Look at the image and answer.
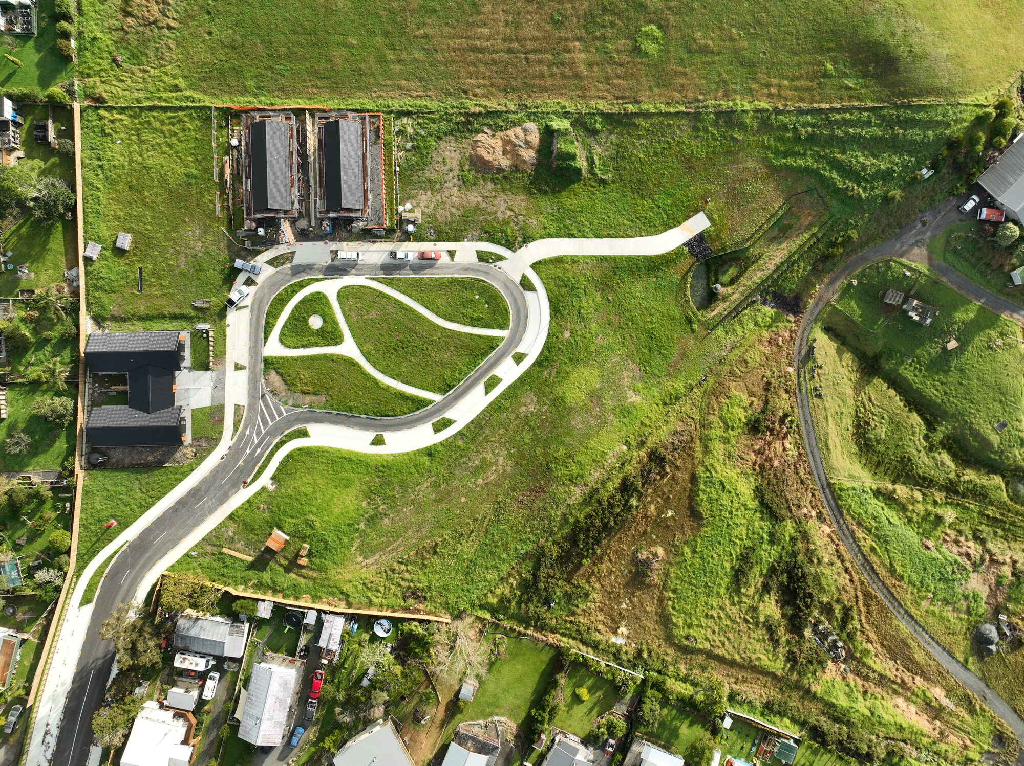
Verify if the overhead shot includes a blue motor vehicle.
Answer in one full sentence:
Yes, a blue motor vehicle is visible in the scene.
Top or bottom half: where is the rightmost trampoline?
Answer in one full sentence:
You can find the rightmost trampoline in the bottom half.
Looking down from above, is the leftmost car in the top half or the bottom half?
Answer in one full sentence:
The bottom half of the photo is where the leftmost car is.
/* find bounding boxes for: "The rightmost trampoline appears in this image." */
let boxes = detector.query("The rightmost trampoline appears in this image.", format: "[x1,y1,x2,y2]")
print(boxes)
[281,612,302,635]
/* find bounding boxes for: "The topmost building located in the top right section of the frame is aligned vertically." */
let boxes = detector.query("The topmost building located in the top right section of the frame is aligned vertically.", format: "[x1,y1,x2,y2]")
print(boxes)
[974,129,1024,232]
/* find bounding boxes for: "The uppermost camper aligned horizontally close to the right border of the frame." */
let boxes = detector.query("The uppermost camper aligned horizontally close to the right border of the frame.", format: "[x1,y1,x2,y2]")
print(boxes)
[968,208,1002,223]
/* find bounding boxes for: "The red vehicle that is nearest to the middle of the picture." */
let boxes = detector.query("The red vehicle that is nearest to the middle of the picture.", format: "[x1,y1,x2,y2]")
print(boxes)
[418,249,442,261]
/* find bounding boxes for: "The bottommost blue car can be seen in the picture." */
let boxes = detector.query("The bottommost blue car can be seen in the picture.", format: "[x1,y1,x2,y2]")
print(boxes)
[290,725,306,748]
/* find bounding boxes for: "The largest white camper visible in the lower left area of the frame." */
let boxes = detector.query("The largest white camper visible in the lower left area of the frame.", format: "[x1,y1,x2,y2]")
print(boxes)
[178,654,220,673]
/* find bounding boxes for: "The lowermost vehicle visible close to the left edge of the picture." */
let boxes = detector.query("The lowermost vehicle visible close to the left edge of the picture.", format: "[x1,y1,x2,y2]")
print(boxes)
[2,703,24,734]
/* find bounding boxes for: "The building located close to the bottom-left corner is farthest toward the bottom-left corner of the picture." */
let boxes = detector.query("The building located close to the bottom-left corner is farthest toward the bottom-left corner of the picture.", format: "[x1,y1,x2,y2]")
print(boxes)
[0,635,29,692]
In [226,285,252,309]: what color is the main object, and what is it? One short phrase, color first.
white truck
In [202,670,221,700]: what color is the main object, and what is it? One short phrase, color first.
white car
